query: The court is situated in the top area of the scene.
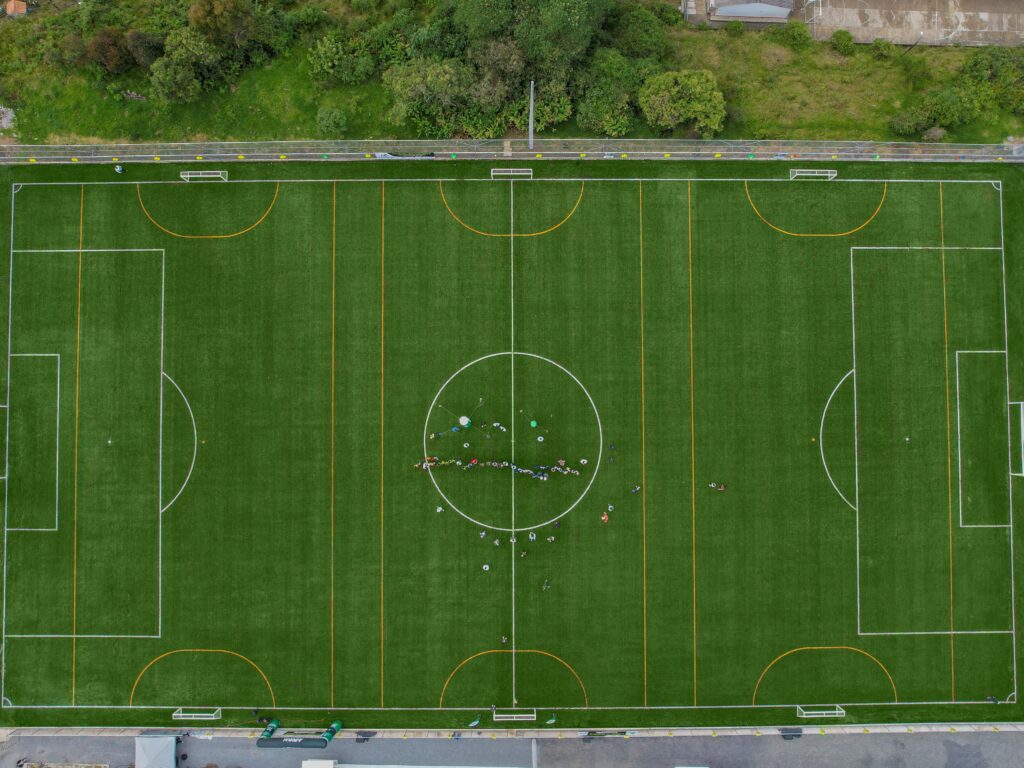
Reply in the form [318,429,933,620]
[806,0,1024,48]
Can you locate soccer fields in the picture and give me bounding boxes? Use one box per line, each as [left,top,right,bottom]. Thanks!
[0,159,1024,729]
